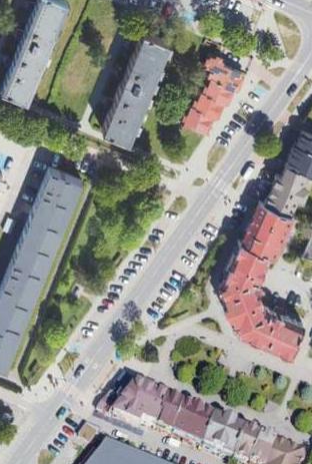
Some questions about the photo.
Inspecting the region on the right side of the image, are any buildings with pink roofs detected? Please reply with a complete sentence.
Yes, looking on the right side of the image, one can make out a building with a pink roof.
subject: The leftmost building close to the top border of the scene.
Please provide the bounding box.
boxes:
[0,0,69,109]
